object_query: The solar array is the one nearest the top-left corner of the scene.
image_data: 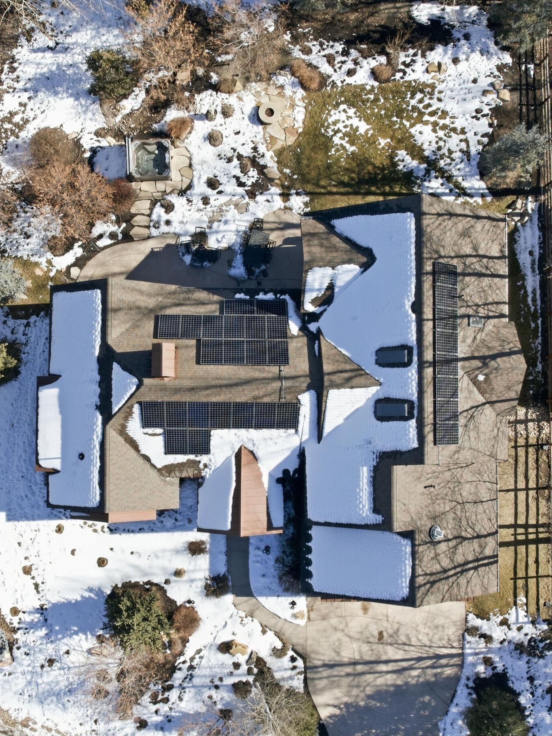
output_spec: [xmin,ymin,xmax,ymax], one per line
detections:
[159,299,288,365]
